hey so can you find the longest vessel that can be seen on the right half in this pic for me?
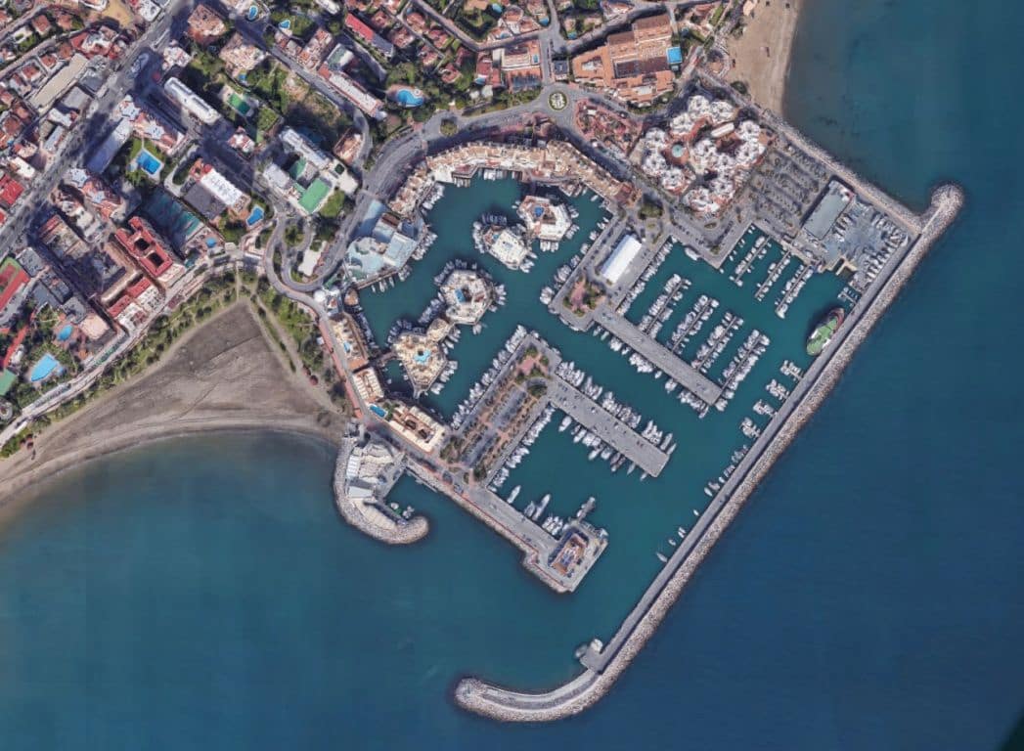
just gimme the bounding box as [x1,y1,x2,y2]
[810,310,844,354]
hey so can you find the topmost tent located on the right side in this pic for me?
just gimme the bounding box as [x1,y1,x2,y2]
[600,235,644,284]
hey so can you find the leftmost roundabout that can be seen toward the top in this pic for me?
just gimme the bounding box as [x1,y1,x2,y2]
[434,112,464,142]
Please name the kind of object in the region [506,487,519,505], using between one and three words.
boat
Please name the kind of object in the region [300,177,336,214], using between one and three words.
sports court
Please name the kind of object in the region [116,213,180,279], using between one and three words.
building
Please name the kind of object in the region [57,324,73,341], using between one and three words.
swimming pool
